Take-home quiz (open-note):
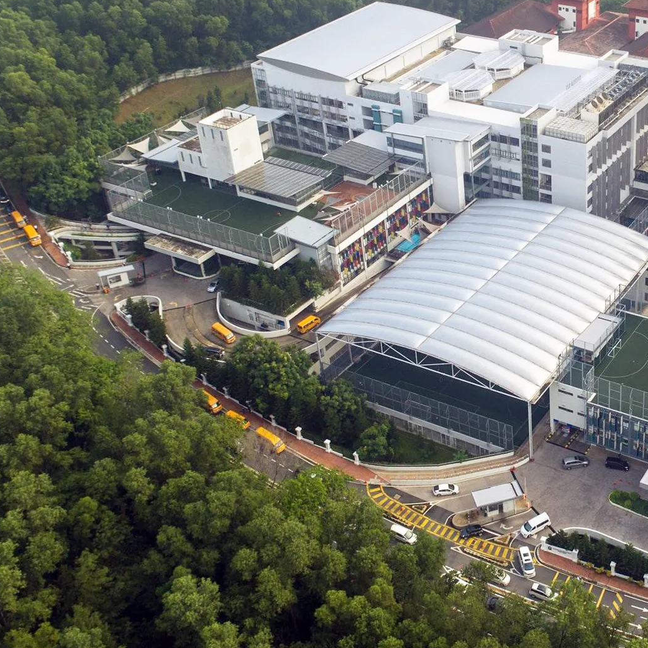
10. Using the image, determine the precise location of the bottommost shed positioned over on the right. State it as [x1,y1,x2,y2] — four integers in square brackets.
[472,480,523,521]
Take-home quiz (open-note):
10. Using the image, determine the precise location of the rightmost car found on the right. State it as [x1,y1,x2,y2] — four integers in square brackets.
[605,453,632,471]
